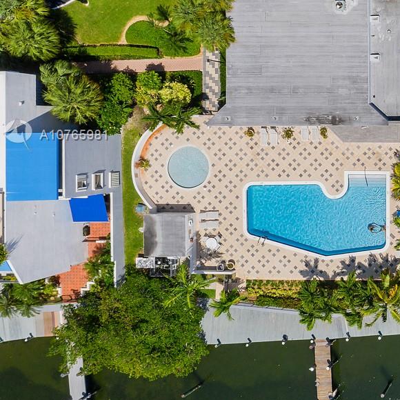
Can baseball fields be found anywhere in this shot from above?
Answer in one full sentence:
No, there appears to be no baseball field in this shot.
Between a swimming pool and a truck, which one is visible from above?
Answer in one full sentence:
The one in the frame is a swimming pool.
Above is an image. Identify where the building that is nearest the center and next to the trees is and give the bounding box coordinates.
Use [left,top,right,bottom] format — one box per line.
[143,212,201,259]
